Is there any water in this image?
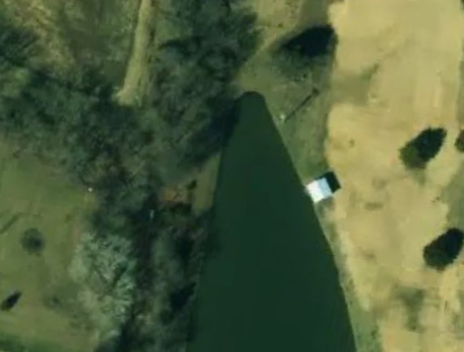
Yes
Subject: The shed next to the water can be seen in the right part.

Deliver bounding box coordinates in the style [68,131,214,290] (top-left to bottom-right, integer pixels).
[307,178,332,202]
